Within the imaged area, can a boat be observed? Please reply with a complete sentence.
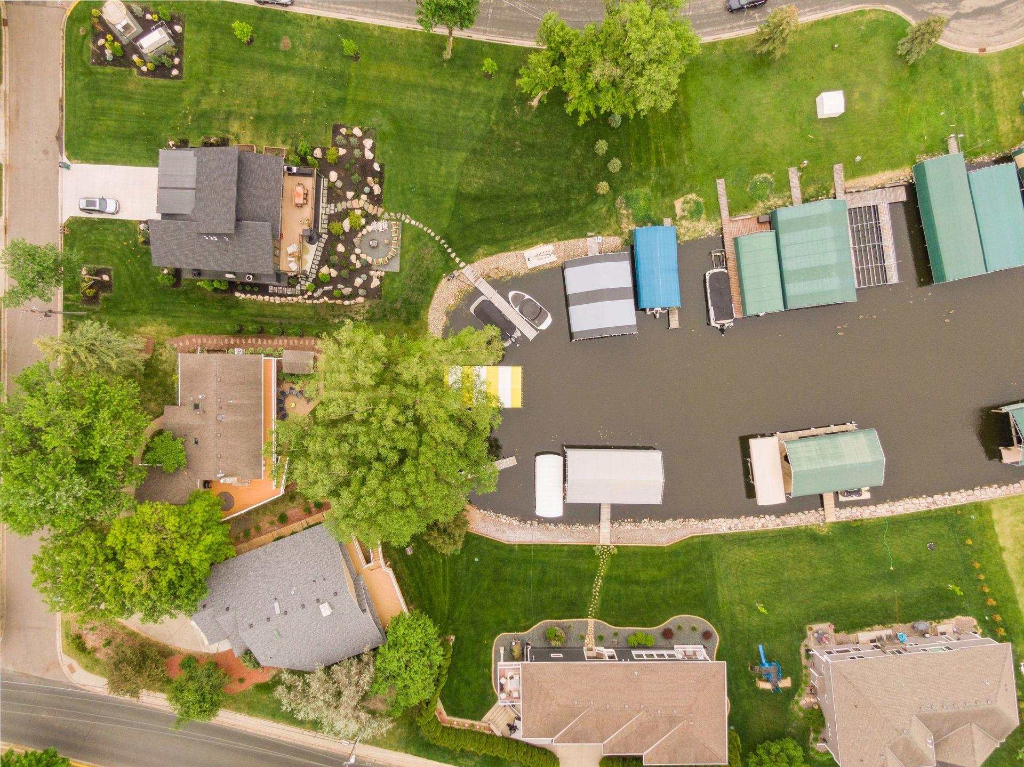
Yes, a boat is visible in the scene.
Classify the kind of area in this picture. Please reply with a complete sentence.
What you see here is a residential area.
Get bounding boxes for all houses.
[481,633,728,765]
[192,519,408,671]
[148,146,323,286]
[804,627,1019,767]
[135,353,288,522]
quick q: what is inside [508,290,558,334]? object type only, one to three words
boat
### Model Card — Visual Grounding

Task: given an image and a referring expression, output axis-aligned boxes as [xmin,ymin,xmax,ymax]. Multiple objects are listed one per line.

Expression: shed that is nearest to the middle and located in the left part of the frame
[282,350,318,374]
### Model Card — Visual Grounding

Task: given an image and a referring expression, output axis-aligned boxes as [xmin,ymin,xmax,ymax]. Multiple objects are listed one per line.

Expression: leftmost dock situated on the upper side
[460,264,540,341]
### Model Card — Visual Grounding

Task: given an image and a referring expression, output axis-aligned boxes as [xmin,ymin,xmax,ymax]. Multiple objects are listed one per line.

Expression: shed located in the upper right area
[815,90,845,118]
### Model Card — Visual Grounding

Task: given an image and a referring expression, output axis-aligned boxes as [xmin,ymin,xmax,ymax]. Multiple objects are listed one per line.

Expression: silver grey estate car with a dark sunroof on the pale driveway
[74,194,117,213]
